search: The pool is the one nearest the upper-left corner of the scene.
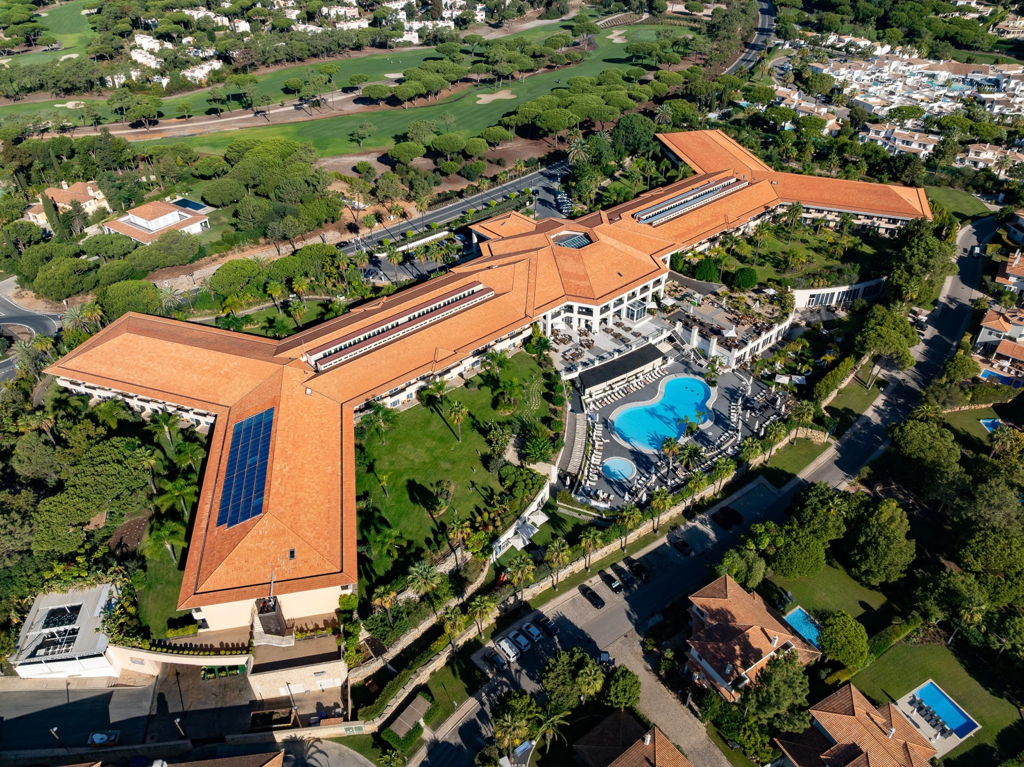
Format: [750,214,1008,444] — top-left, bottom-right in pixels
[168,195,214,213]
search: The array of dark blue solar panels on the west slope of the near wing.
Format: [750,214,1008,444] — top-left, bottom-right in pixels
[216,406,274,529]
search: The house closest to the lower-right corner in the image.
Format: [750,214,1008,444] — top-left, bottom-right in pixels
[774,682,943,767]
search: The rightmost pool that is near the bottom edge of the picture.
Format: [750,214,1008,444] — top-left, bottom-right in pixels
[911,677,985,743]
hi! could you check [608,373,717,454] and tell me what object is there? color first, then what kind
blue swimming pool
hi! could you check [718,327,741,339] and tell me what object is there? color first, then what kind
white umbrella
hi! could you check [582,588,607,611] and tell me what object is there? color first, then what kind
black car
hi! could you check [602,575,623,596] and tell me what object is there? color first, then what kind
black car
